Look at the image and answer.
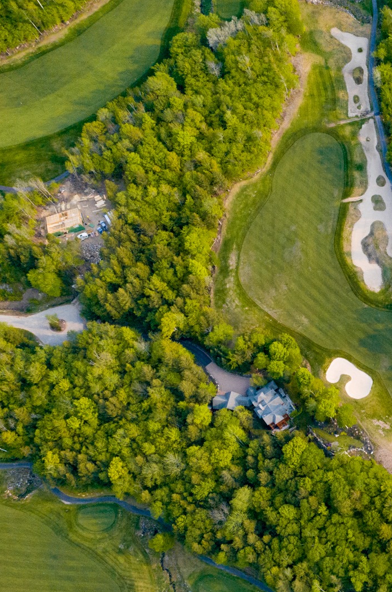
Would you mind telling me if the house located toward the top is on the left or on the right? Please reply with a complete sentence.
It is on the left.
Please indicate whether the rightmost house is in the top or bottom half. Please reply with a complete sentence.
It is in the bottom half that the rightmost house appears.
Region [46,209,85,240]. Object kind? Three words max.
house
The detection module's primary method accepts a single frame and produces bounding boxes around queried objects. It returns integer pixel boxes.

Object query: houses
[211,380,298,433]
[46,209,85,240]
